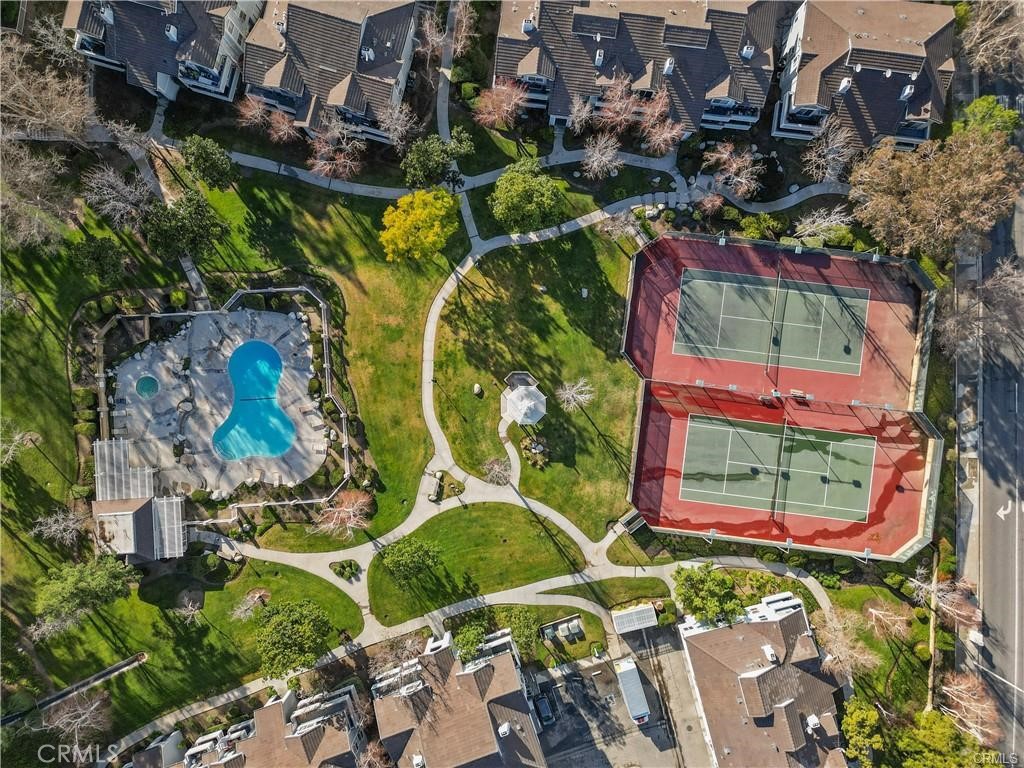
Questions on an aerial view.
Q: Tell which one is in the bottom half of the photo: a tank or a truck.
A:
truck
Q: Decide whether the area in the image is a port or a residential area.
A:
residential area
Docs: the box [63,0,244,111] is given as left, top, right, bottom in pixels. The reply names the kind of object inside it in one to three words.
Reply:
house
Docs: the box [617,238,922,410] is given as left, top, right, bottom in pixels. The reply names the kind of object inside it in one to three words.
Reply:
tennis court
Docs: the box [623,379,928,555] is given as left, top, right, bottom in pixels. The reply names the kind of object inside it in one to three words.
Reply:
tennis court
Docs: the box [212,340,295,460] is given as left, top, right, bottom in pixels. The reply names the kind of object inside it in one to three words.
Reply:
swimming pool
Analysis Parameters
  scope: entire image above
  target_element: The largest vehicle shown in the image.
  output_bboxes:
[613,657,651,727]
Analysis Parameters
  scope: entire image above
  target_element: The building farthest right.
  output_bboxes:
[768,0,956,152]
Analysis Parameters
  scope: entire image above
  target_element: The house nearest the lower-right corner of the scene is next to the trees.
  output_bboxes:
[674,588,846,768]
